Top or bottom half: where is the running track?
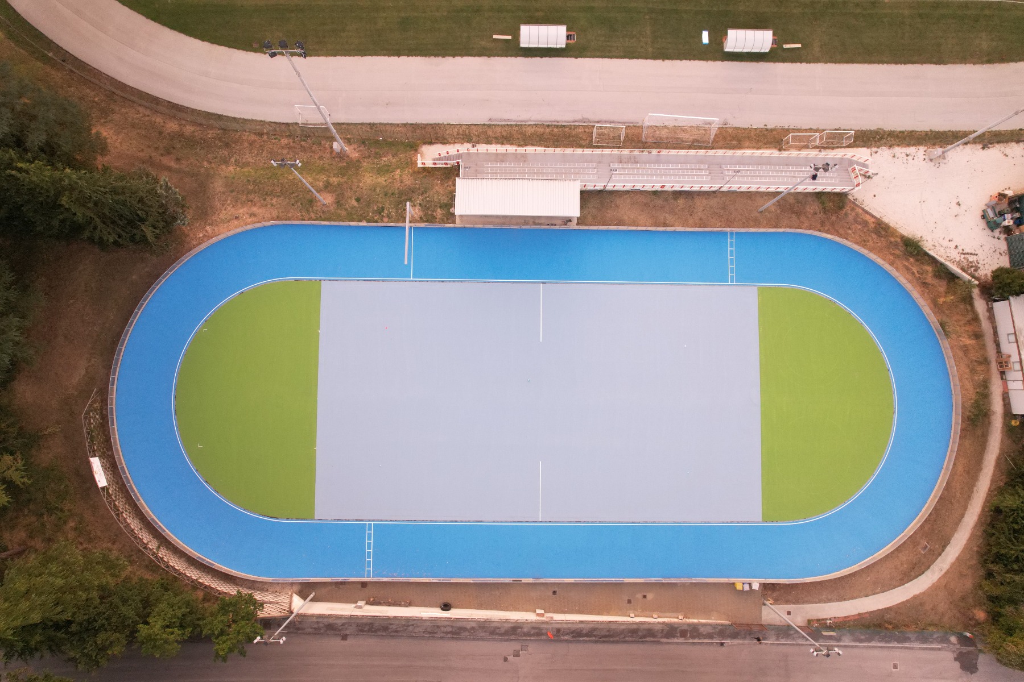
top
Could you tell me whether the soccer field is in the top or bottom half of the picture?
top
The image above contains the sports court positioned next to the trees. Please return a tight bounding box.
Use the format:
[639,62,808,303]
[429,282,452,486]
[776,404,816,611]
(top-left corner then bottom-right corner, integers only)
[175,282,894,521]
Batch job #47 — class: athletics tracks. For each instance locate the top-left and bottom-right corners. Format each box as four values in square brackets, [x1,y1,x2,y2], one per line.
[9,0,1024,132]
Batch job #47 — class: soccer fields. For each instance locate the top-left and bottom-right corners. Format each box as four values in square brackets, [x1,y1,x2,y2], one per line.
[118,0,1024,65]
